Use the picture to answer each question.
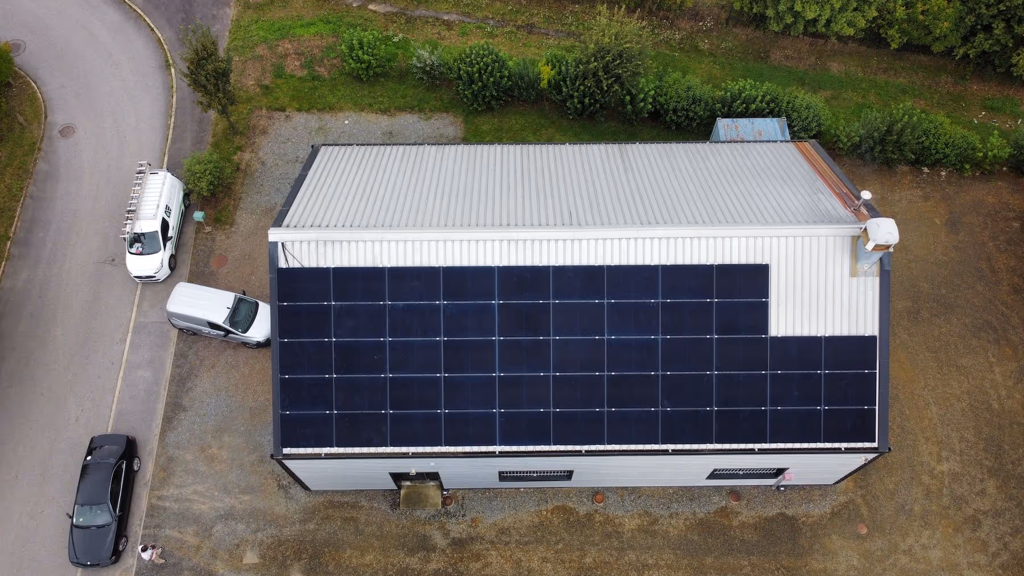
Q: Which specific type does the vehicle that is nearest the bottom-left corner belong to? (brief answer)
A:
automobile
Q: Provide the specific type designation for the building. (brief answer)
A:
warehouse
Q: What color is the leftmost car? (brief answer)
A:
black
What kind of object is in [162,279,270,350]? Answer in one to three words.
van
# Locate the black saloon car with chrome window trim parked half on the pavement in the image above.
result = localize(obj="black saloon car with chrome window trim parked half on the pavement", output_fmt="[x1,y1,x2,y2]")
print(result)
[61,436,142,572]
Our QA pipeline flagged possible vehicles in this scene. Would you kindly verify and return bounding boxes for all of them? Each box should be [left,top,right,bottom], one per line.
[162,279,270,350]
[61,436,142,572]
[118,165,190,283]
